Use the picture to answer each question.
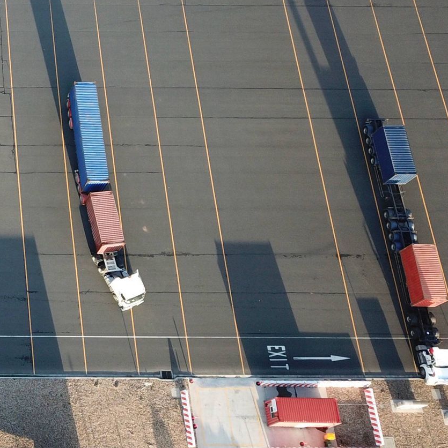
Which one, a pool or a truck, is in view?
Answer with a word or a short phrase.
truck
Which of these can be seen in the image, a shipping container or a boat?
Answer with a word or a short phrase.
shipping container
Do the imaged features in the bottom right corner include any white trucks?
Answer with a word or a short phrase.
Yes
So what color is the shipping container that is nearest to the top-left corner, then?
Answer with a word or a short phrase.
blue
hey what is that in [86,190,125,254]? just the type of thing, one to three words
shipping container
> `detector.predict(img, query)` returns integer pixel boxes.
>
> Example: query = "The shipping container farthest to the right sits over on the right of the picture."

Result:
[400,244,448,307]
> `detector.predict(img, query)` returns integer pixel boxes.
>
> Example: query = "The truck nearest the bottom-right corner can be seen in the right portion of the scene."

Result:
[407,312,448,386]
